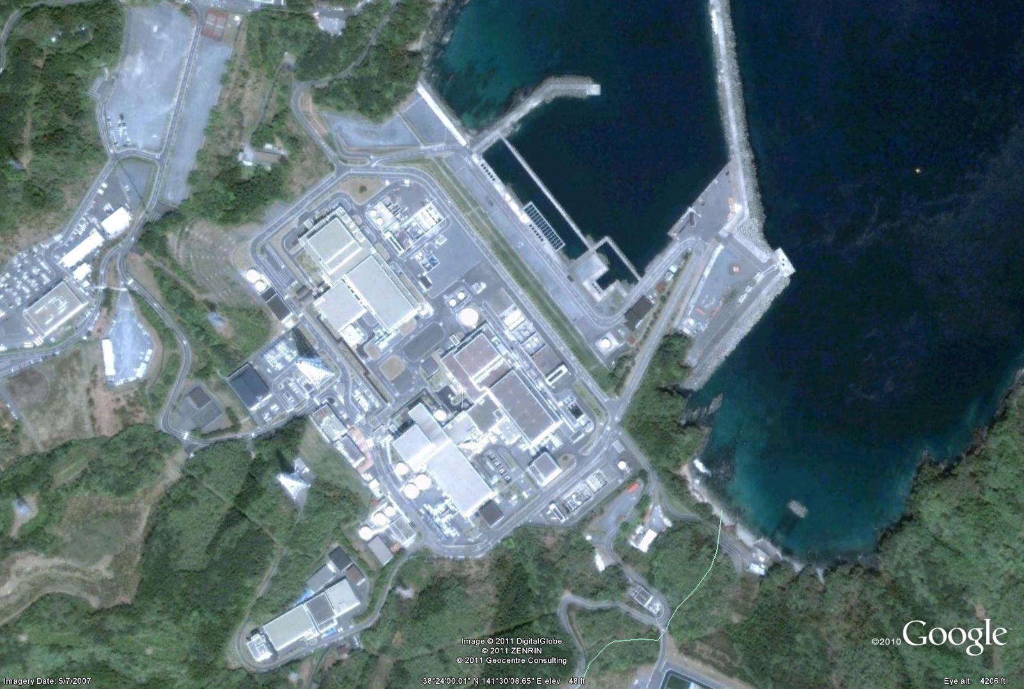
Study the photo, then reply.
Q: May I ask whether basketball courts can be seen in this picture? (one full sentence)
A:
No, no basketball court is visible in the scene.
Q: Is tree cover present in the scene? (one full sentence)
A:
Yes, there's tree cover in this view.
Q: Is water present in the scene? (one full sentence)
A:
Yes, the picture does contain water.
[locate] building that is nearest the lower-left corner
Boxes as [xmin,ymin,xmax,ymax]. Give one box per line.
[247,634,272,661]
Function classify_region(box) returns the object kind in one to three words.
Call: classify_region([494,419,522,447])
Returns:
building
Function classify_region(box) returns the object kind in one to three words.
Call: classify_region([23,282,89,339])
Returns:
building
